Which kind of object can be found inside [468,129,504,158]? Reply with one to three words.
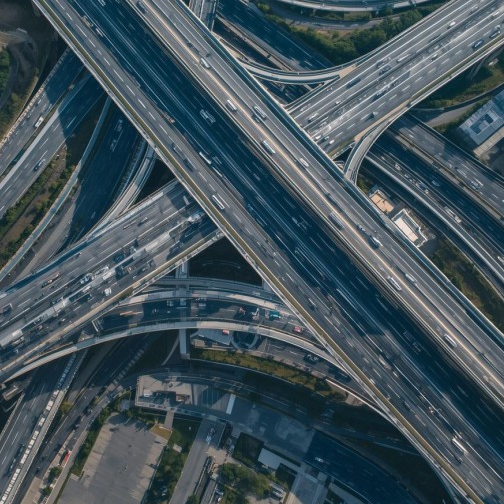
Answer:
shed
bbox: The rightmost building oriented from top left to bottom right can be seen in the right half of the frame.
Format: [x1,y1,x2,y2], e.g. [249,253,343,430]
[388,209,428,247]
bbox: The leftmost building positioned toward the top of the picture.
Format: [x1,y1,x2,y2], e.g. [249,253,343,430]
[368,189,395,213]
